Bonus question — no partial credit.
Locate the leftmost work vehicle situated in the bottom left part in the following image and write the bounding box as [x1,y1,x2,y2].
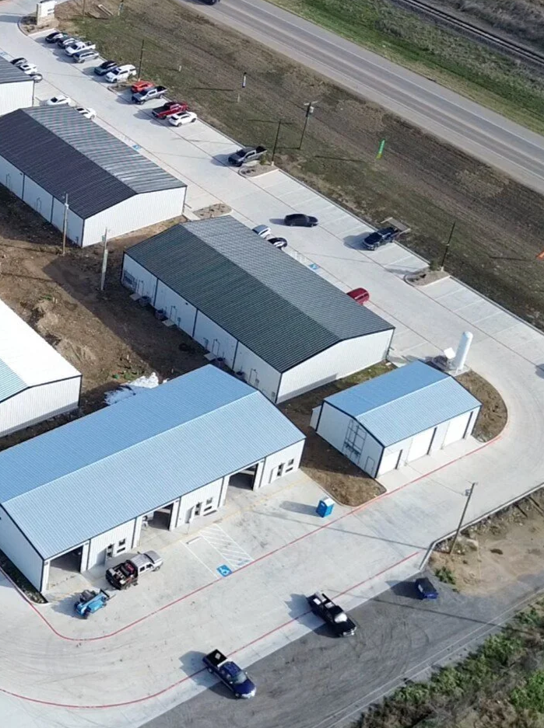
[72,585,120,620]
